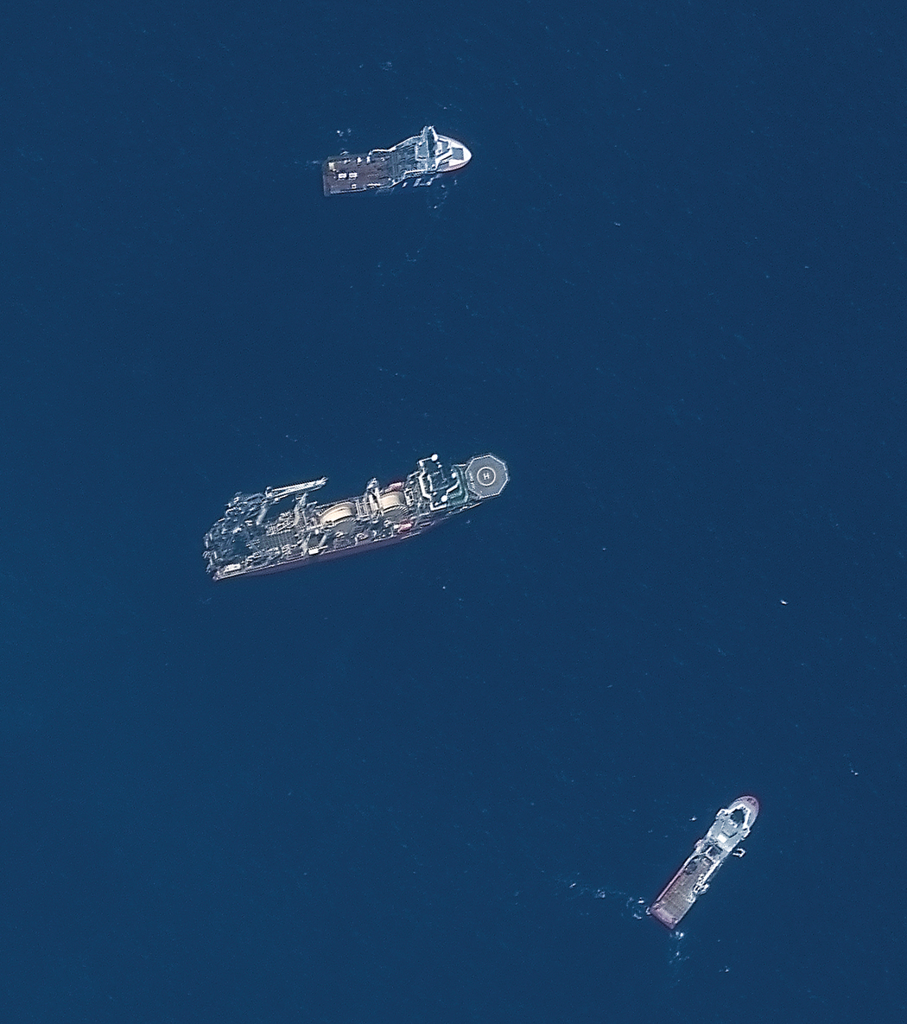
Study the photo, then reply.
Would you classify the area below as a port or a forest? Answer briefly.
port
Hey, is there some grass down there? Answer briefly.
No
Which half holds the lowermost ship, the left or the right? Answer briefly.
right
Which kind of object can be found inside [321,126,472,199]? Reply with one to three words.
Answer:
ship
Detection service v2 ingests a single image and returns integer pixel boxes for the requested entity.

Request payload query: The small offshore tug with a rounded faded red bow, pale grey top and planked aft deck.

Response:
[648,796,760,932]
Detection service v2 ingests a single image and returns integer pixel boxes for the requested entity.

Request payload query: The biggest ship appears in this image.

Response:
[202,453,510,581]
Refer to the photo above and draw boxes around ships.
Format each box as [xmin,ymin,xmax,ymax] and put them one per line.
[648,796,760,932]
[321,126,472,199]
[202,453,510,581]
